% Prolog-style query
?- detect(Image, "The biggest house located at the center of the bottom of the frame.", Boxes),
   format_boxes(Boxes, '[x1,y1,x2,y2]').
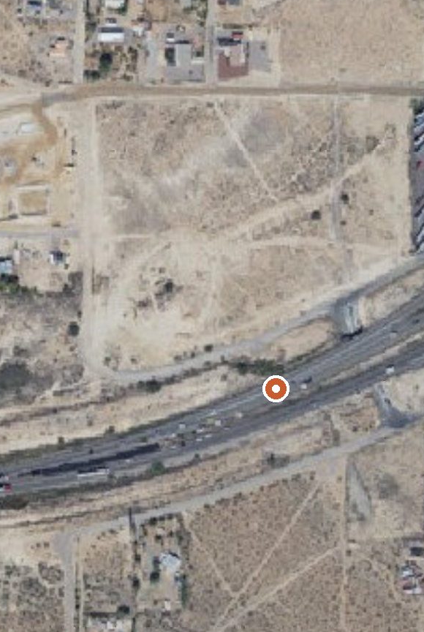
[157,552,182,574]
